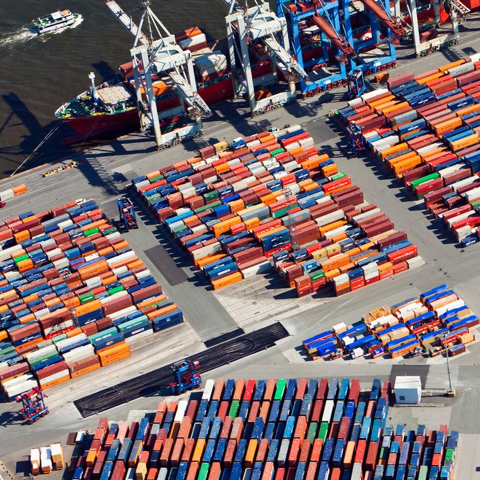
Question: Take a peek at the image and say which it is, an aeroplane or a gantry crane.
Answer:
gantry crane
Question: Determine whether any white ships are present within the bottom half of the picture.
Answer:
No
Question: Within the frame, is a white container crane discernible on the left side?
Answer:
Yes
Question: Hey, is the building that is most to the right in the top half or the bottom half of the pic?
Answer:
bottom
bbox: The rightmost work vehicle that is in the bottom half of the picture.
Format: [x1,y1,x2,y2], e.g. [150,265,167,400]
[170,344,200,386]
